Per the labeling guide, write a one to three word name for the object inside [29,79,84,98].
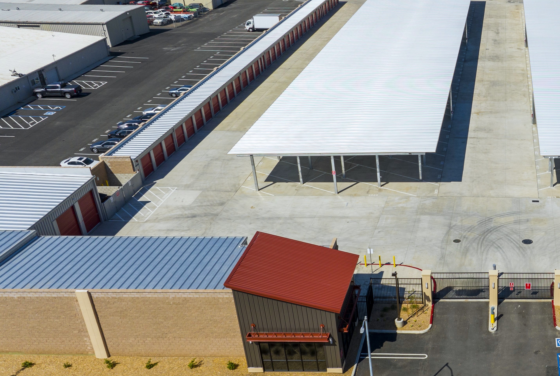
vehicle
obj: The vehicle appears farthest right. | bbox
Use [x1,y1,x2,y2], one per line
[245,11,285,31]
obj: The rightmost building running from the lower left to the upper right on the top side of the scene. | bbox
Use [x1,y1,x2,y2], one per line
[102,0,335,182]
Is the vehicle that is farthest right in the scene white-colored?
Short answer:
Yes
